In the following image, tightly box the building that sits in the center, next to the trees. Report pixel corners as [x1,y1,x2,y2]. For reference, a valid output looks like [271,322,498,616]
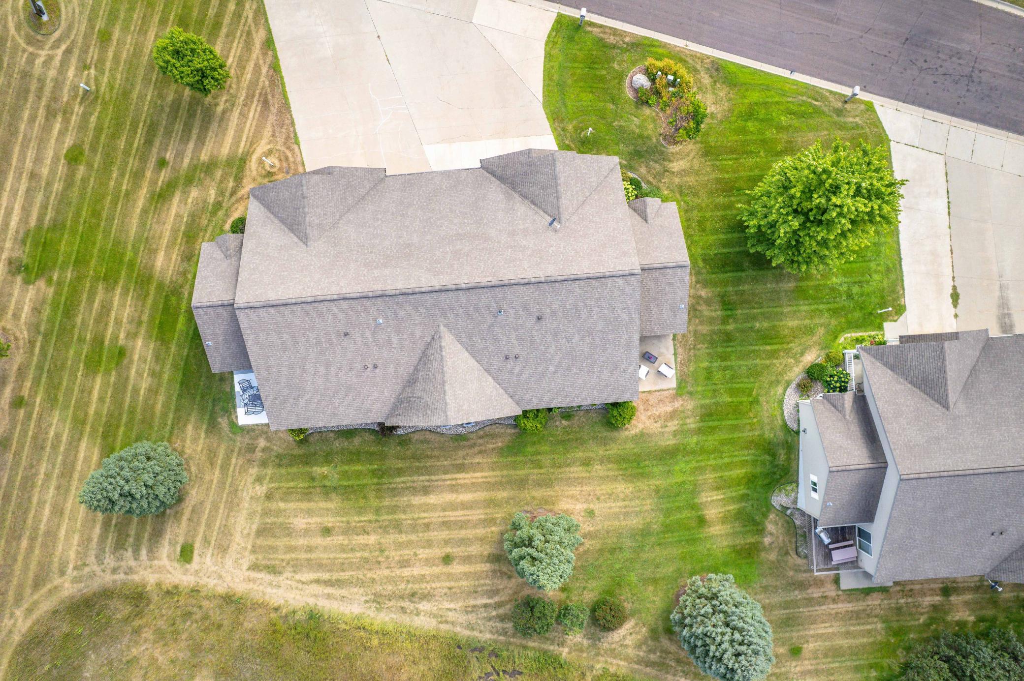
[191,148,690,430]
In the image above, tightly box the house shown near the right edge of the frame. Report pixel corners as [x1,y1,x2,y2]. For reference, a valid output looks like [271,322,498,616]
[797,327,1024,588]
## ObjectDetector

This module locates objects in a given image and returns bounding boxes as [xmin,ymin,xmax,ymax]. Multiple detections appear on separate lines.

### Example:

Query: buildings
[797,327,1024,588]
[191,148,690,430]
